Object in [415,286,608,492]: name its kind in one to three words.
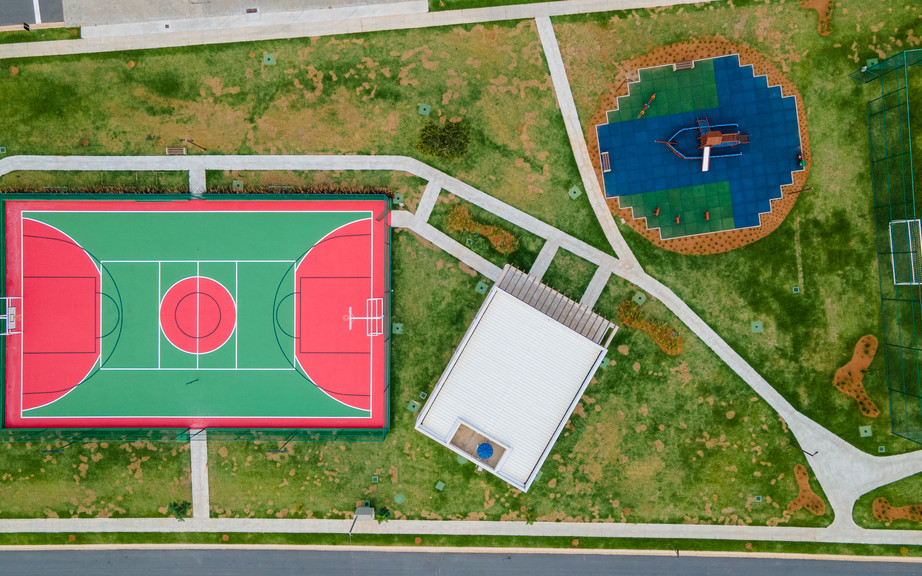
building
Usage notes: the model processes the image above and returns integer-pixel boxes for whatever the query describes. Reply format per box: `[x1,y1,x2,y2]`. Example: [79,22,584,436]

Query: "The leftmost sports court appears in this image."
[5,200,390,428]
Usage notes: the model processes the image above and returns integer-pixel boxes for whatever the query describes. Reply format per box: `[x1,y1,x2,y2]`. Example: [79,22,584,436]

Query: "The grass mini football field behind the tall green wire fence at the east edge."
[868,68,922,431]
